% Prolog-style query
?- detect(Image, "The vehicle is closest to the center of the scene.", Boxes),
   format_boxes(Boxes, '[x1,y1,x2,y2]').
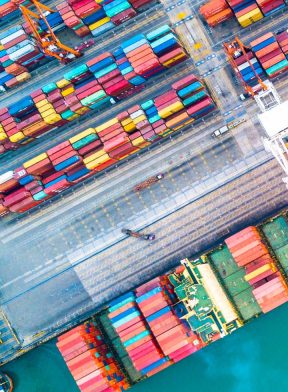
[131,172,161,192]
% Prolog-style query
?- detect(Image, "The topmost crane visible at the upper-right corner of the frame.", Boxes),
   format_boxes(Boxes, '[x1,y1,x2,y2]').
[218,28,270,100]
